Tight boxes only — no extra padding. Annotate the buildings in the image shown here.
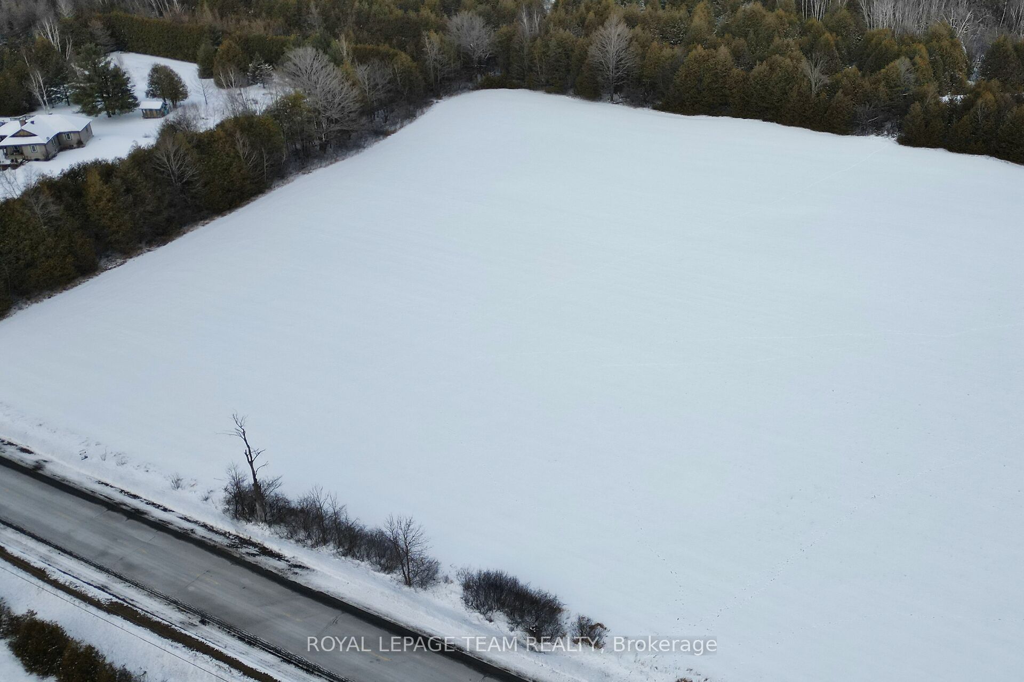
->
[135,98,167,118]
[0,113,96,166]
